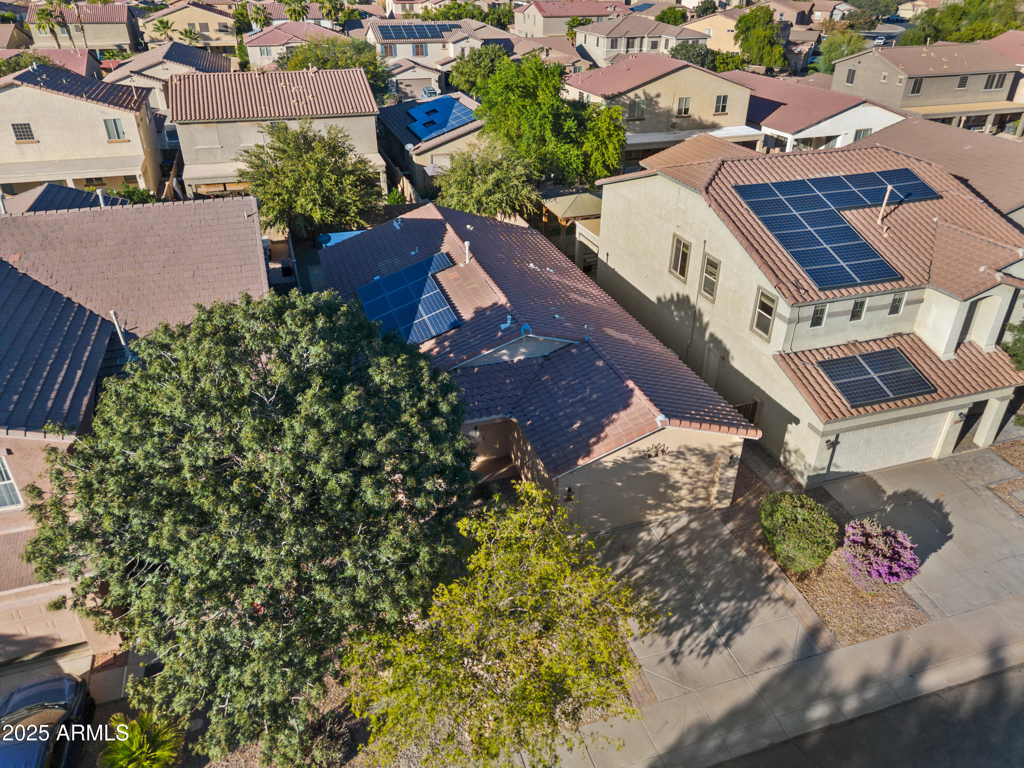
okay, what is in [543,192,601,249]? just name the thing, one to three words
gazebo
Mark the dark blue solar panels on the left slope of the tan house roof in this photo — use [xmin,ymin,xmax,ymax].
[355,247,458,340]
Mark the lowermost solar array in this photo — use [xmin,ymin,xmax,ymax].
[819,345,939,404]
